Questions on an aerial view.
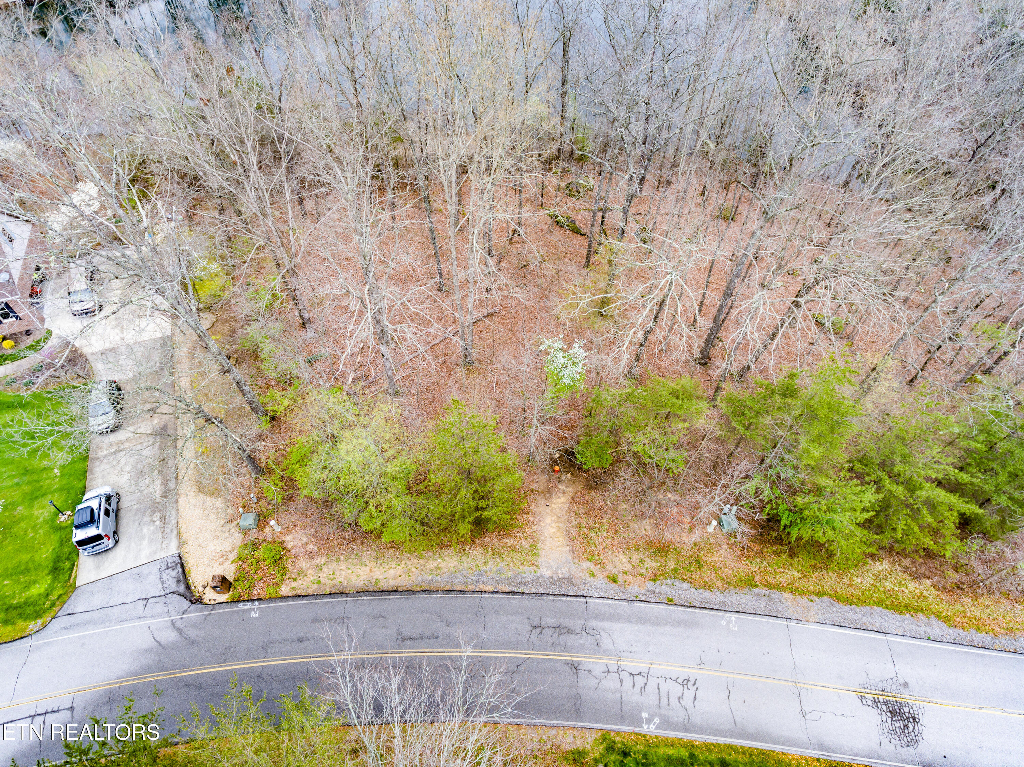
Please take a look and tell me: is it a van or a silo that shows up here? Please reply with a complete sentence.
Of the two, only a van appears.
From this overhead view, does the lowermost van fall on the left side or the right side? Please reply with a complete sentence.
The lowermost van is on the left side of the image.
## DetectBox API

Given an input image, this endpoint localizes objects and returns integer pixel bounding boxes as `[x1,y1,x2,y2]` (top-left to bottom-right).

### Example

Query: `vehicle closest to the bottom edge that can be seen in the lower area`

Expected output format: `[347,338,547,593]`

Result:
[71,484,118,563]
